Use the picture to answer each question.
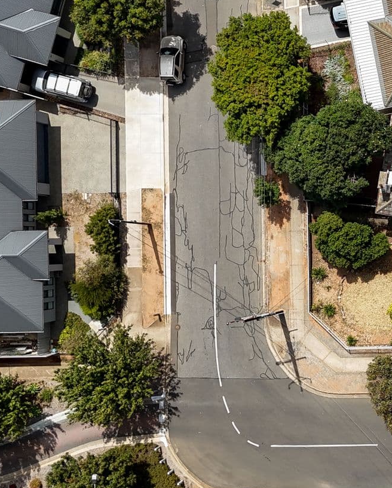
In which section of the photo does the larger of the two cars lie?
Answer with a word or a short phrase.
top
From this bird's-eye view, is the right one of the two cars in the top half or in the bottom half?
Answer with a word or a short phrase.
top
